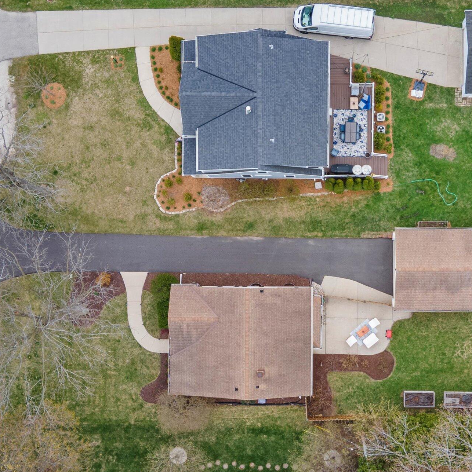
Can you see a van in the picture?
Yes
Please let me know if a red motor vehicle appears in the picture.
No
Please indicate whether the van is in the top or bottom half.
top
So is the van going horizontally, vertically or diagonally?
horizontally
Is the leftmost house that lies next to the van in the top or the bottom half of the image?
top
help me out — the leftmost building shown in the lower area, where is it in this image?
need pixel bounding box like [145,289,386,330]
[167,270,324,400]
